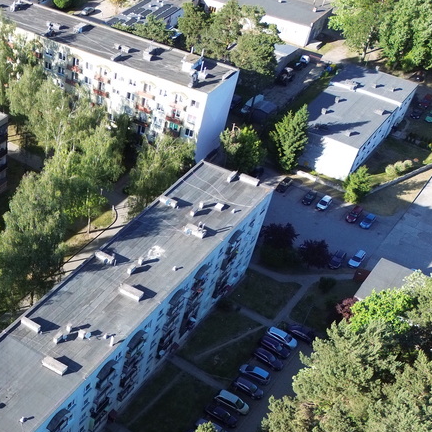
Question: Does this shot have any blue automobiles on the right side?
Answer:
Yes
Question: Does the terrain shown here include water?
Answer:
No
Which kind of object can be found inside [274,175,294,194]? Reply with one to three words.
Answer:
car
